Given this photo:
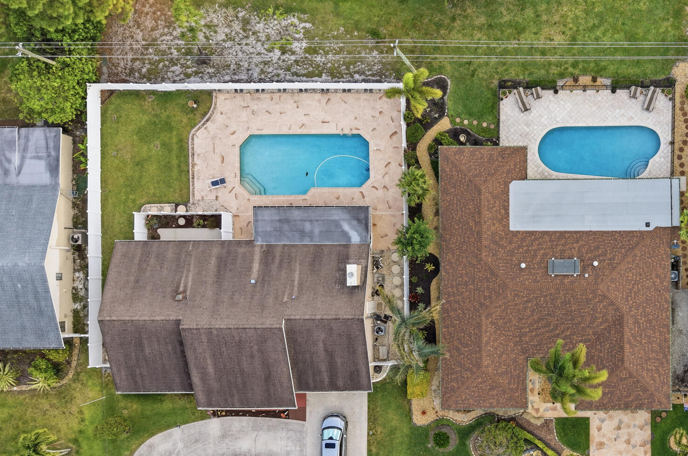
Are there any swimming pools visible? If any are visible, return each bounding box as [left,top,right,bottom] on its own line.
[236,130,374,199]
[532,119,666,179]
